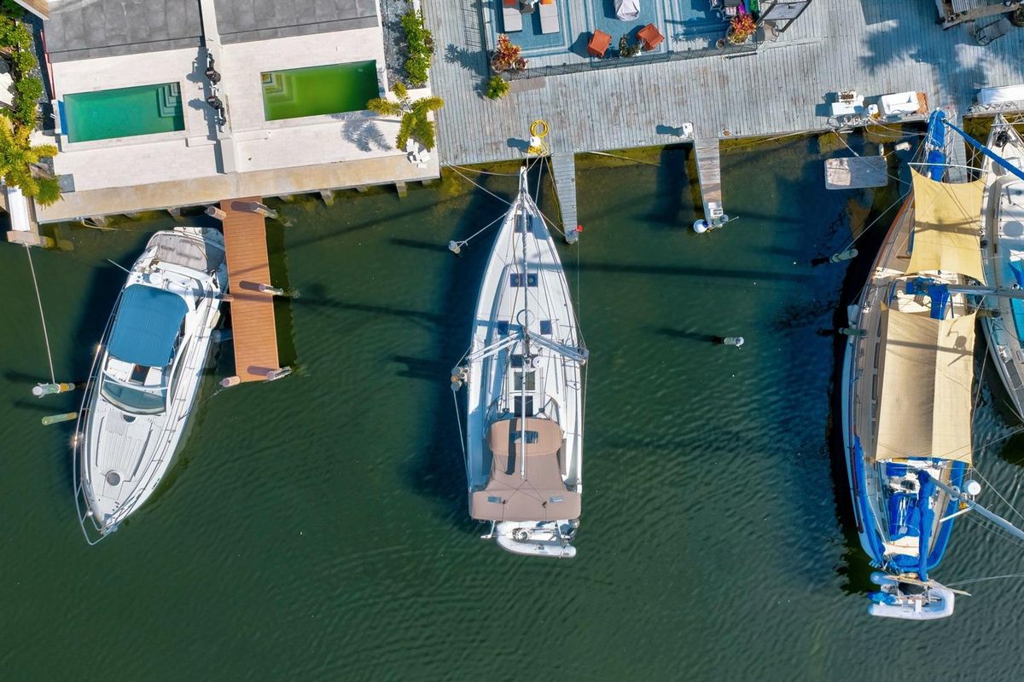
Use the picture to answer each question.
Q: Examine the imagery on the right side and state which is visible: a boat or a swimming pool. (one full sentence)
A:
It is a boat that can be seen on the right side.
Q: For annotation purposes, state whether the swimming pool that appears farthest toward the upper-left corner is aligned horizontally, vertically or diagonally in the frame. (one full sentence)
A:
The swimming pool that appears farthest toward the upper-left corner is oriented horizontally.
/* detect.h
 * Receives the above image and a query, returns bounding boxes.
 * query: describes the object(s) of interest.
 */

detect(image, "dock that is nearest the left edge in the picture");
[220,198,282,383]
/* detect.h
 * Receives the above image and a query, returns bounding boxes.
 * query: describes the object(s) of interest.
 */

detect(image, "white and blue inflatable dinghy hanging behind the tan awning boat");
[865,571,955,621]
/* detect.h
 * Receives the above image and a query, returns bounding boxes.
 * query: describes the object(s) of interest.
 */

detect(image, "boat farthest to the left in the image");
[73,227,230,545]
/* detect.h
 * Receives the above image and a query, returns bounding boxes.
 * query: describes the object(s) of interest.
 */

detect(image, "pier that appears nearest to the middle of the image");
[550,152,580,244]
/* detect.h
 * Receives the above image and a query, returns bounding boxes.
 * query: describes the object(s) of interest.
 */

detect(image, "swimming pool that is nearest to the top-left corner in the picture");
[56,74,193,150]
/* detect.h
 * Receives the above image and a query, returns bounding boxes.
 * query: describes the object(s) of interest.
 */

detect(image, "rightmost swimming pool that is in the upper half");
[254,52,387,128]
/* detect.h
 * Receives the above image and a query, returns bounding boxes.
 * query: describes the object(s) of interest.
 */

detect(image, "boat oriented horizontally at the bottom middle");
[495,521,579,559]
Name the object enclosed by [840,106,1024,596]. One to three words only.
boat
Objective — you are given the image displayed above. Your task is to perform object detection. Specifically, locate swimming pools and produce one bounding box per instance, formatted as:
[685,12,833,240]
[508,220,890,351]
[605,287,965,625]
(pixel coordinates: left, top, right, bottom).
[254,52,387,128]
[56,74,193,150]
